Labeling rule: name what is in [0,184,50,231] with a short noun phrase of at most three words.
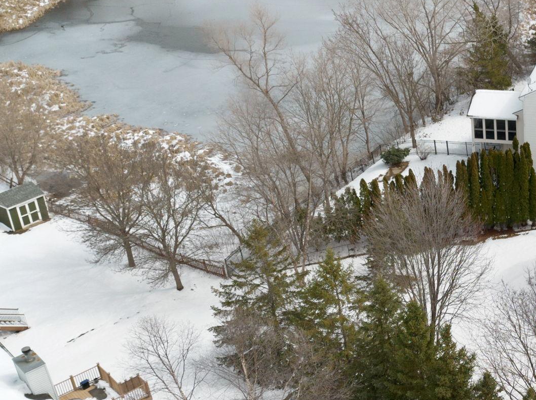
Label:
shed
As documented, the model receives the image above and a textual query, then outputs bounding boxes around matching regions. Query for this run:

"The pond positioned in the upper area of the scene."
[0,0,524,212]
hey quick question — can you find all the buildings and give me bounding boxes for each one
[0,342,59,400]
[461,63,536,158]
[0,184,50,231]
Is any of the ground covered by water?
Yes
